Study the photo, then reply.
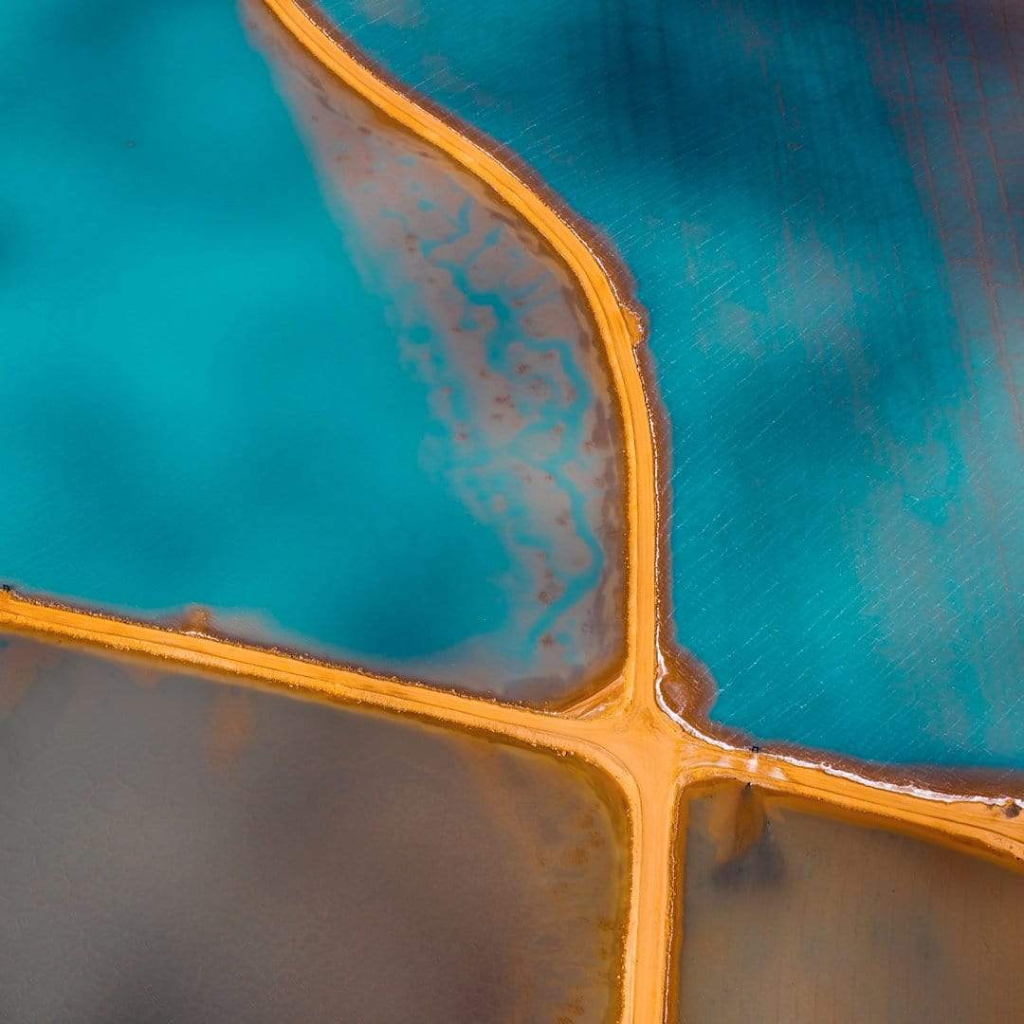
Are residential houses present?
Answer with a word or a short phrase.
No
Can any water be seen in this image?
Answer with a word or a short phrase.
Yes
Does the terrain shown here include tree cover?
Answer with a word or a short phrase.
No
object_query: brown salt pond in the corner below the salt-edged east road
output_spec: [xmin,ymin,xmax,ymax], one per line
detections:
[675,794,1024,1024]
